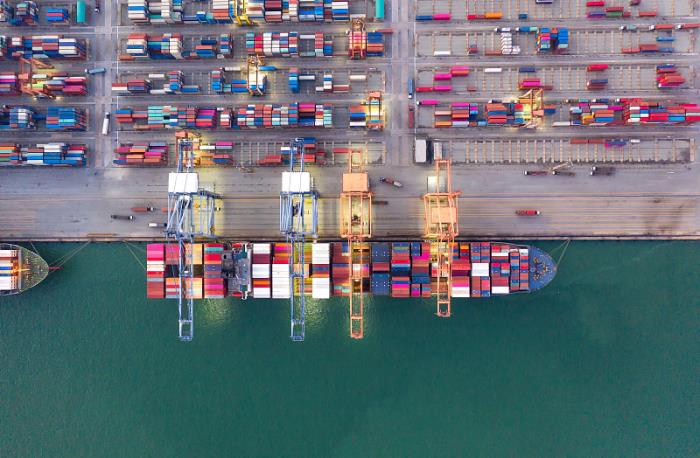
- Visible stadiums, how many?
zero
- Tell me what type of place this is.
port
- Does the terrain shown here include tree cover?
No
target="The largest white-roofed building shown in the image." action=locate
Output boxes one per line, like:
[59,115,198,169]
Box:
[415,139,430,163]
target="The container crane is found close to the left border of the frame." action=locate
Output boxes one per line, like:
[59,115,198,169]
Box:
[19,57,51,98]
